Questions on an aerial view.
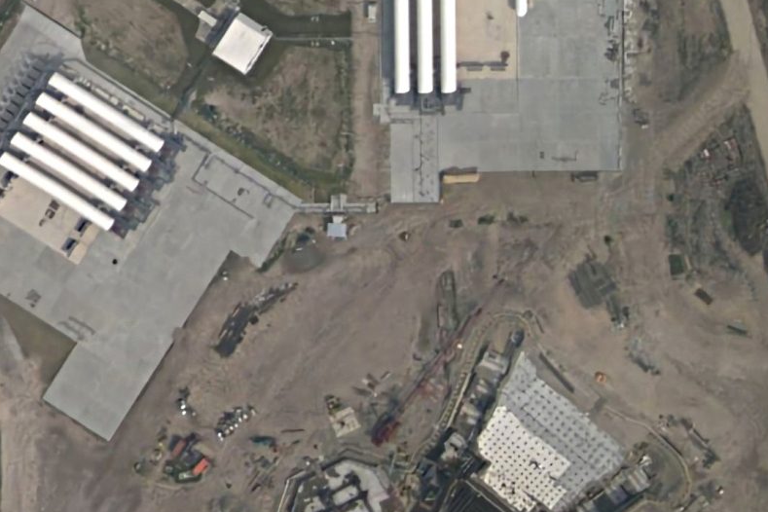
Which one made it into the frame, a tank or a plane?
tank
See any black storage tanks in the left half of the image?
No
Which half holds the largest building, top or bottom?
top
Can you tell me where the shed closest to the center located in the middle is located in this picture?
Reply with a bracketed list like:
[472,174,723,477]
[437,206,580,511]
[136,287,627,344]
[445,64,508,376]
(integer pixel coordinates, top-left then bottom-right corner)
[326,222,347,241]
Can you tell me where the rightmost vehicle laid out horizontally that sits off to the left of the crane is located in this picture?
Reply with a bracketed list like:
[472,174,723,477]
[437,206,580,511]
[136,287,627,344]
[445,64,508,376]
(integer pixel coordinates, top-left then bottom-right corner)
[252,433,277,446]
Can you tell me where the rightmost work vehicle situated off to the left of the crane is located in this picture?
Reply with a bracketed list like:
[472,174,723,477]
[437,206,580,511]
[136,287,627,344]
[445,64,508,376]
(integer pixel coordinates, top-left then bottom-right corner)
[325,392,341,412]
